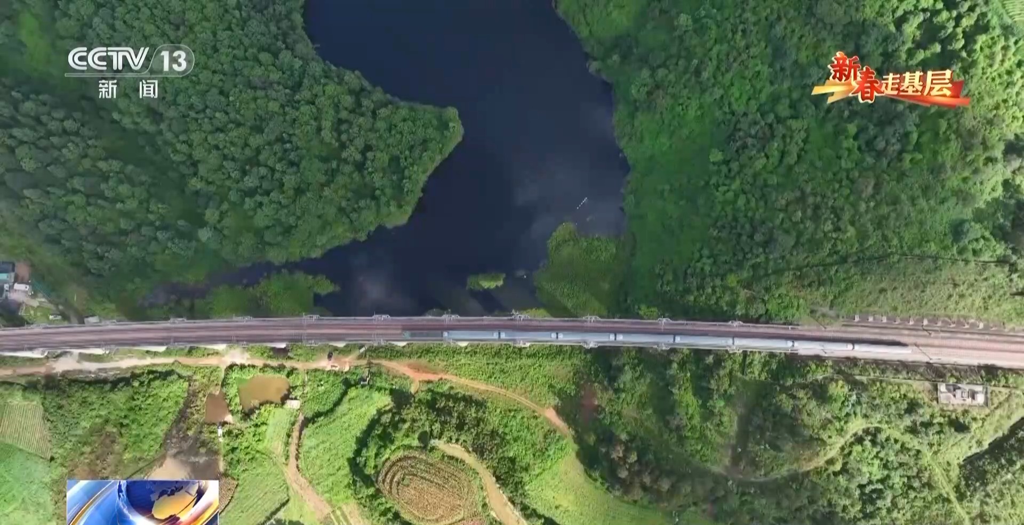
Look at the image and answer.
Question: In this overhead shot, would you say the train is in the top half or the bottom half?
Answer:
bottom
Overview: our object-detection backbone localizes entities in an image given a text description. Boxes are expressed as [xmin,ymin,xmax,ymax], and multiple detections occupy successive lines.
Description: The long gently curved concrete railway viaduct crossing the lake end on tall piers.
[0,314,796,361]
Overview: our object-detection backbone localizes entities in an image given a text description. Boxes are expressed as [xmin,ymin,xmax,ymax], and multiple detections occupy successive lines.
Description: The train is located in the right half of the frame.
[399,331,911,354]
